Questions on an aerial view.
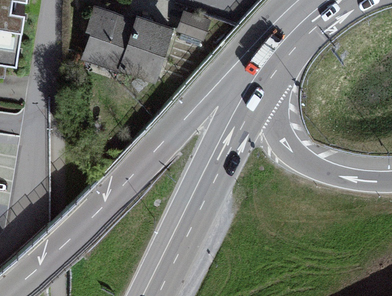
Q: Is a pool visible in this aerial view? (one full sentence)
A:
No, there isn't any pool down there.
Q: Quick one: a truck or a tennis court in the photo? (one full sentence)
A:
Of the two, only a truck appears.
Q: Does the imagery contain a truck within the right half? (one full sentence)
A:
Yes, you'll find a truck within the right half.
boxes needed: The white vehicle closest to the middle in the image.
[246,86,264,108]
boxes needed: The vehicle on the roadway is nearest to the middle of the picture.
[225,152,240,174]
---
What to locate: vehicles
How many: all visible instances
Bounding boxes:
[320,2,342,20]
[210,30,225,46]
[246,86,264,108]
[0,182,7,191]
[225,152,240,174]
[356,0,378,10]
[242,30,282,74]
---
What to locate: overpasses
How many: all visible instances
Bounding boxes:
[0,0,284,296]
